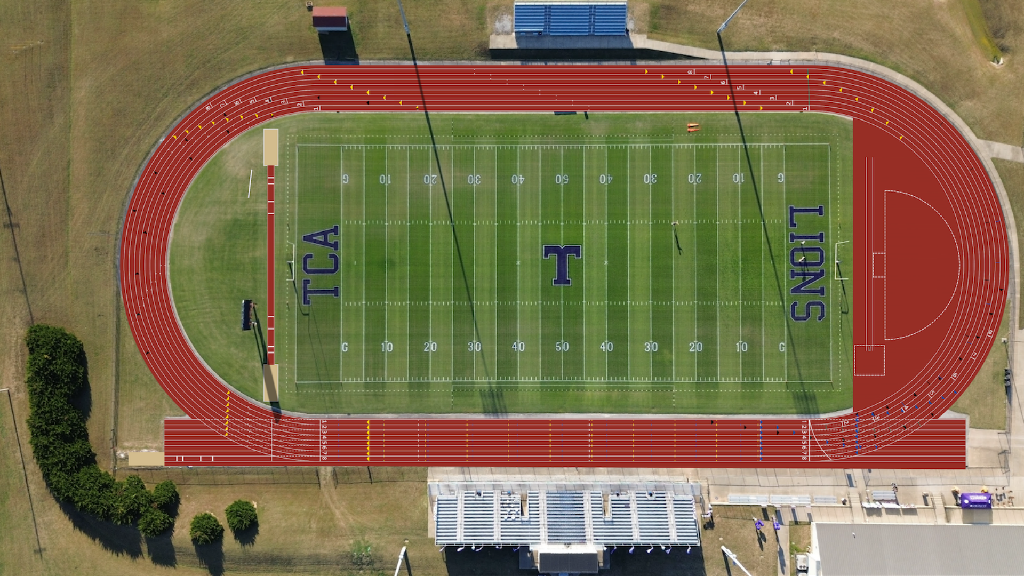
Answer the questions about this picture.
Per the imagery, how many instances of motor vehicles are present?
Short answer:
none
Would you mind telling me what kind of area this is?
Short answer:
sports ground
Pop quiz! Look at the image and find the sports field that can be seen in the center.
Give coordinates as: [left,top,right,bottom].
[170,113,853,413]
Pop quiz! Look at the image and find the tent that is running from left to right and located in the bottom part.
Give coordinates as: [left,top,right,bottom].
[956,491,991,508]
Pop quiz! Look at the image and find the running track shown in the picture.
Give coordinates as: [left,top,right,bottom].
[120,65,1009,469]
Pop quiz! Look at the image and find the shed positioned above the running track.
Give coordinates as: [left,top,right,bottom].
[312,7,347,33]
